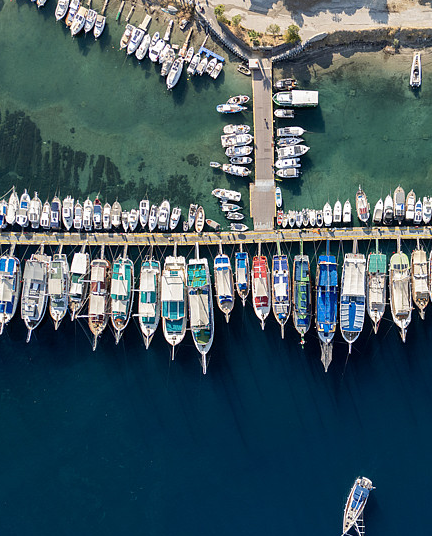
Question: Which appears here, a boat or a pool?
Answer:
boat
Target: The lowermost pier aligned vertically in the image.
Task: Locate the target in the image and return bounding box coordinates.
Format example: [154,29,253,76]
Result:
[249,58,277,229]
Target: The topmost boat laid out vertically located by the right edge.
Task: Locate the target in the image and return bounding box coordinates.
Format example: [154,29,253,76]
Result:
[409,52,422,91]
